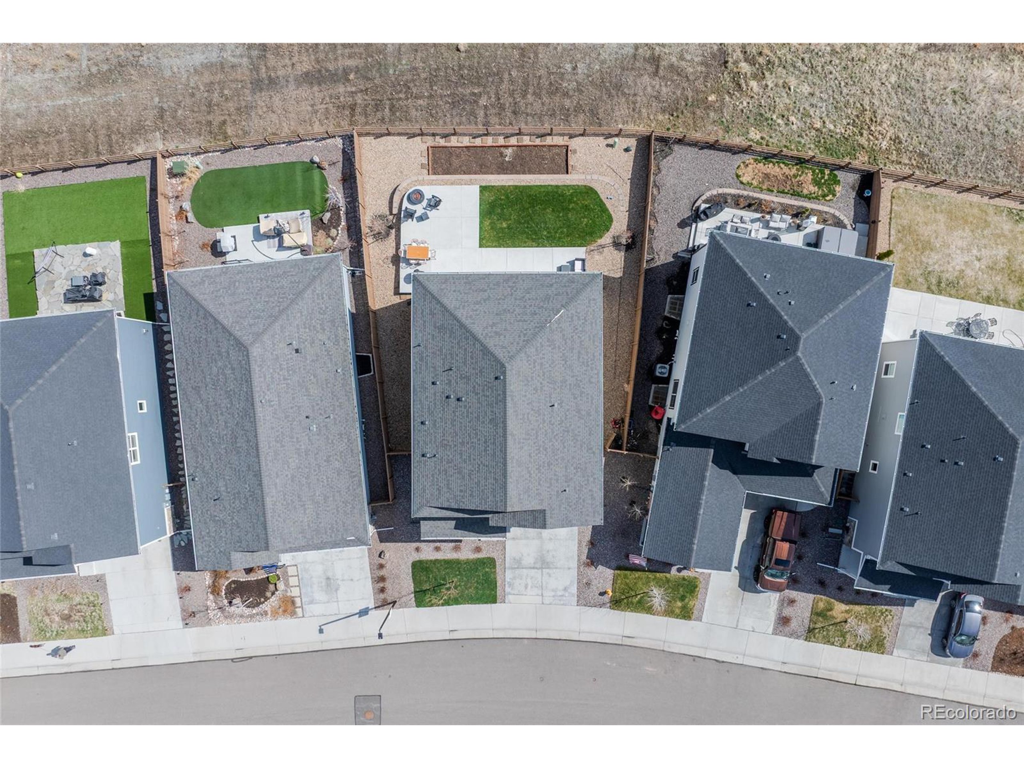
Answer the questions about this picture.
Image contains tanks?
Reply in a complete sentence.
No, no tank can be seen from above.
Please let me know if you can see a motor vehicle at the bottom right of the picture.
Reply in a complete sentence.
Yes, a motor vehicle shows up at the bottom right of the picture.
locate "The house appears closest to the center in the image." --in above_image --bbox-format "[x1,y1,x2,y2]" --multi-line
[410,272,605,540]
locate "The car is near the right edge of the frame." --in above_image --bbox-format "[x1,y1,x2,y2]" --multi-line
[941,593,982,660]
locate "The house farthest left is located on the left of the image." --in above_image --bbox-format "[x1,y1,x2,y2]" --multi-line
[0,308,186,581]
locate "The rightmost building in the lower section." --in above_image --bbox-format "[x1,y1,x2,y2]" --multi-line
[817,331,1024,605]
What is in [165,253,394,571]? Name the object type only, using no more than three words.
house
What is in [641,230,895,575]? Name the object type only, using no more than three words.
house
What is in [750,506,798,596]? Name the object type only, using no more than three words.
truck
